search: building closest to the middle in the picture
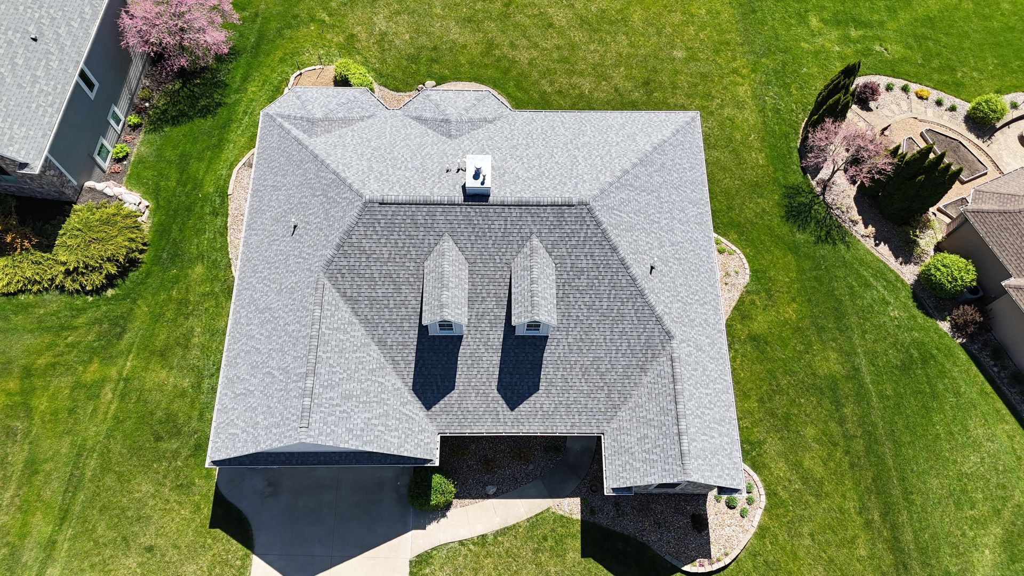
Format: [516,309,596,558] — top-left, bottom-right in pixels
[207,87,743,495]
